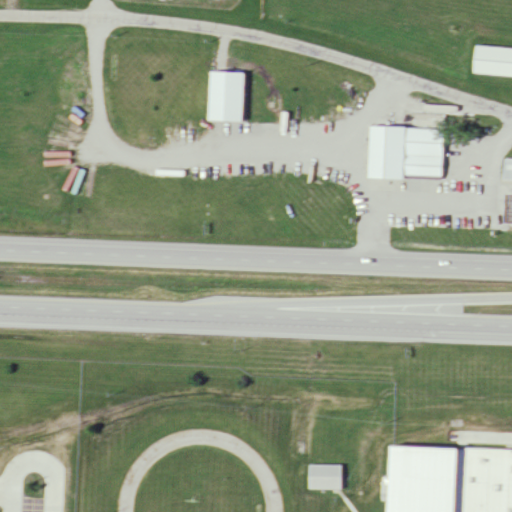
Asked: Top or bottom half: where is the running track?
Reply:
bottom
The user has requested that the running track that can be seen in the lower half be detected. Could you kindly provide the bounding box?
[118,430,283,512]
